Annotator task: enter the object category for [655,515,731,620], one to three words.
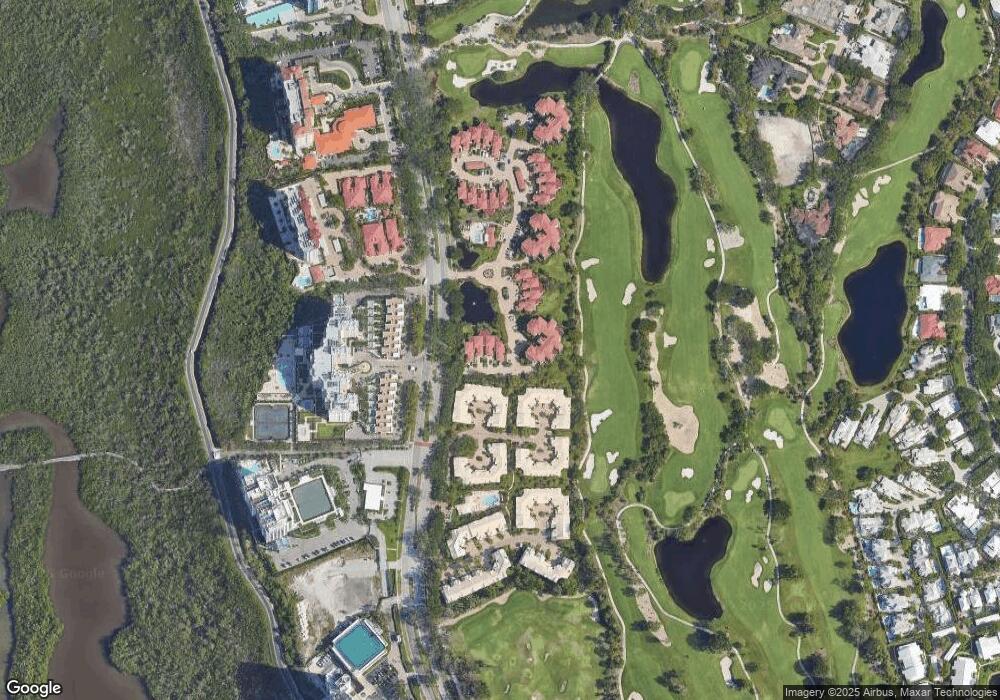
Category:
pond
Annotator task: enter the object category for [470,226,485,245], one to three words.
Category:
swimming pool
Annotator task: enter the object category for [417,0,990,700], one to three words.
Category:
golf course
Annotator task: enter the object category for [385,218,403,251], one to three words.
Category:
house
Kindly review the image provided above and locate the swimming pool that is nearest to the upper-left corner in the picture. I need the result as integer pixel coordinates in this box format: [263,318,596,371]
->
[236,0,302,34]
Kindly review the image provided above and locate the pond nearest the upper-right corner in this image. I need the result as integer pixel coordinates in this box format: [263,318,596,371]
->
[901,0,947,84]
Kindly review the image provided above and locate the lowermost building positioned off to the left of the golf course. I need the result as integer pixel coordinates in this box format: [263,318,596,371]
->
[323,670,352,700]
